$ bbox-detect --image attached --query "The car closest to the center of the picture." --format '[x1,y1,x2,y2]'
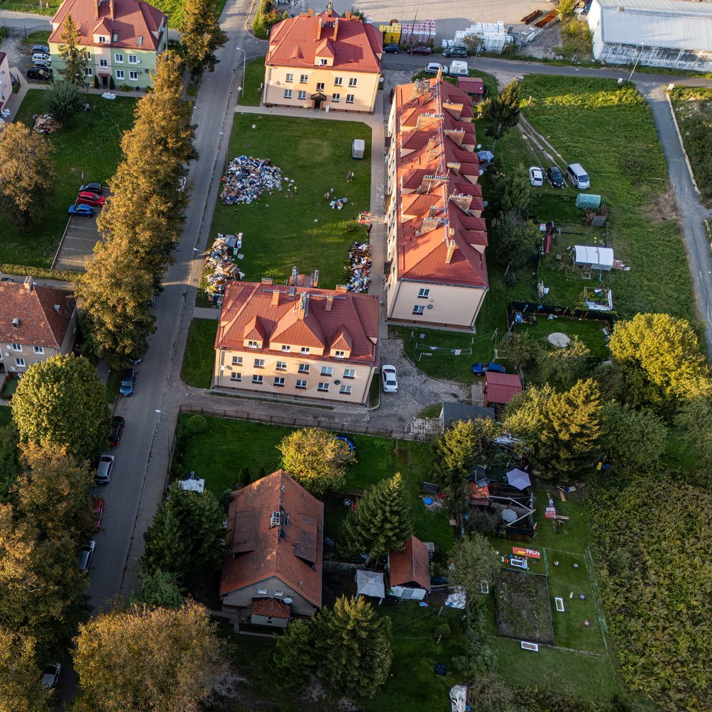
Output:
[382,365,398,395]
